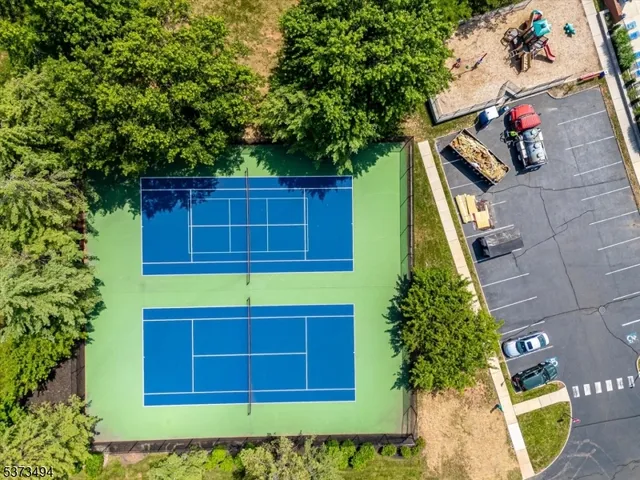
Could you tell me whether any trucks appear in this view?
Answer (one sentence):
Yes, a truck appears in the view.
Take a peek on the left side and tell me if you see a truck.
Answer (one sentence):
No, no truck appears on the left side.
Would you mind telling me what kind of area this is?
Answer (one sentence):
The area seen from above is a sports ground.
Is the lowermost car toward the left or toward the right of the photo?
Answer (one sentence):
The lowermost car appears in the right half of the scene.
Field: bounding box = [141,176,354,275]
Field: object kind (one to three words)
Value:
tennis court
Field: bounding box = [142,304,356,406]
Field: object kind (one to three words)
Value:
tennis court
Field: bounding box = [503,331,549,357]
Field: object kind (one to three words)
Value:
car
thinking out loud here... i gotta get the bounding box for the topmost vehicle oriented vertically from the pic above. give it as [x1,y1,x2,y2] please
[510,104,549,170]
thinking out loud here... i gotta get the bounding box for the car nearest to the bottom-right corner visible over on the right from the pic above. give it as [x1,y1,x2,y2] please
[511,362,557,391]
